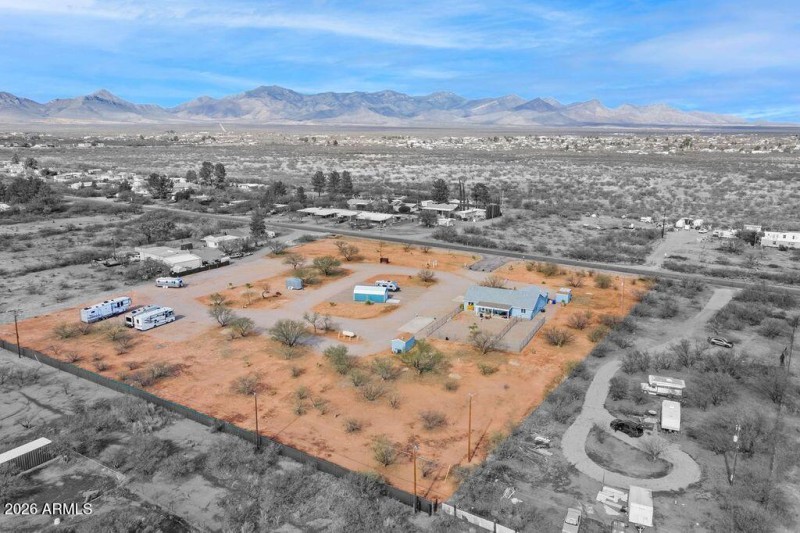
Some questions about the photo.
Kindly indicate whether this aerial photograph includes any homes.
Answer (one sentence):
Yes, there's a home down there.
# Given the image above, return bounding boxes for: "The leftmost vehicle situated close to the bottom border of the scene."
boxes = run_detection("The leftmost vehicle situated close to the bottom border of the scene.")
[562,496,584,533]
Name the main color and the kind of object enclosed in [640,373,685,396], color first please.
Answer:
white truck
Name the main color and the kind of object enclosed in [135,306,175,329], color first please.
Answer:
white camper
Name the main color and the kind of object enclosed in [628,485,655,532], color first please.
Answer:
white trailer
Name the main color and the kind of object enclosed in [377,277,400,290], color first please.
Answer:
white vehicle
